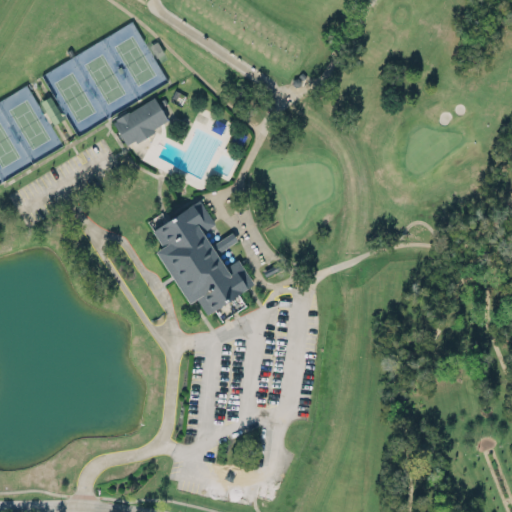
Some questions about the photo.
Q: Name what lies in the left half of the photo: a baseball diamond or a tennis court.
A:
tennis court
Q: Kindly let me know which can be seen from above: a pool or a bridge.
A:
pool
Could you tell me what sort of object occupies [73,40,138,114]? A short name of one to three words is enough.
tennis court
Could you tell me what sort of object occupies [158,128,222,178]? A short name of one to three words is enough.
swimming pool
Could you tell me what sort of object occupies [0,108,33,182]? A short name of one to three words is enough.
tennis court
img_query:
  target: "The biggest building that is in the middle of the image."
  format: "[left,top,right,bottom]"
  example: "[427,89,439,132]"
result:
[155,202,254,315]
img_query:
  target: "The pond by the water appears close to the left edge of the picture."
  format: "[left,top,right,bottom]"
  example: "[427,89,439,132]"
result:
[0,248,145,470]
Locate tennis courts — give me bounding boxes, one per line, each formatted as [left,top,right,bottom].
[0,108,33,182]
[46,59,108,131]
[73,40,138,114]
[0,87,62,162]
[102,21,168,96]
